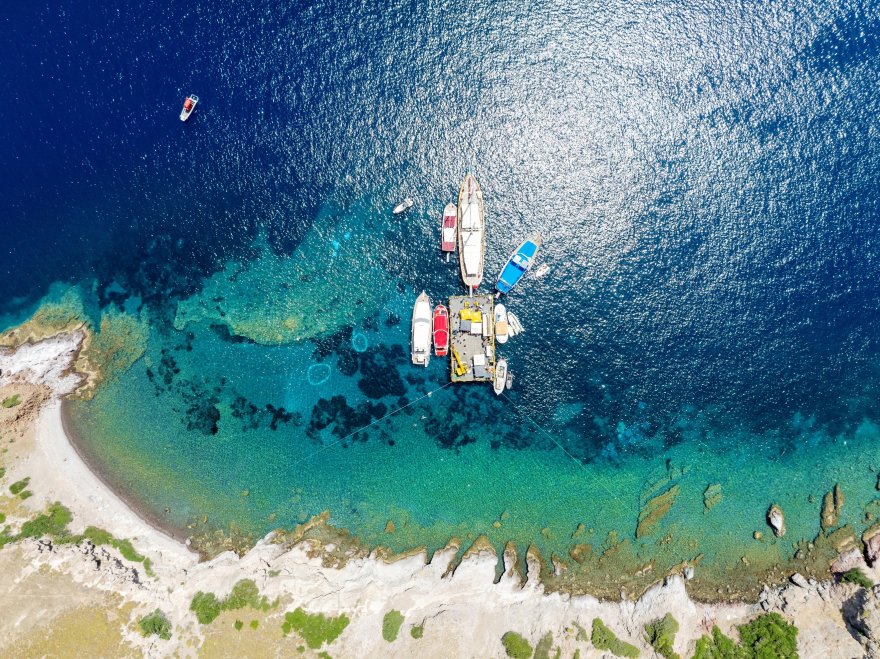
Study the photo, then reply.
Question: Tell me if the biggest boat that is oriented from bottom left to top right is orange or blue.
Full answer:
The biggest boat that is oriented from bottom left to top right is blue.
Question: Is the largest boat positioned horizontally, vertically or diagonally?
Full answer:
The largest boat is oriented vertically.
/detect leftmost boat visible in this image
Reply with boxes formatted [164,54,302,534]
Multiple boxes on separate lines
[180,89,199,121]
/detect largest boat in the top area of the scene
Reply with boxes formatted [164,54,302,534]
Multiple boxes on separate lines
[459,155,484,289]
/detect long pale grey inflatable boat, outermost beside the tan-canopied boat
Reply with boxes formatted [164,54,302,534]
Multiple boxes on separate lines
[508,312,524,334]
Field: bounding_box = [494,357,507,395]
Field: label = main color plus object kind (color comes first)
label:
white boat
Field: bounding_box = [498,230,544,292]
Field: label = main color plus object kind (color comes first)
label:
blue boat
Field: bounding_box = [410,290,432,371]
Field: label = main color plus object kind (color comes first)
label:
white boat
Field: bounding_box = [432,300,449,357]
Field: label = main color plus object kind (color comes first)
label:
red boat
